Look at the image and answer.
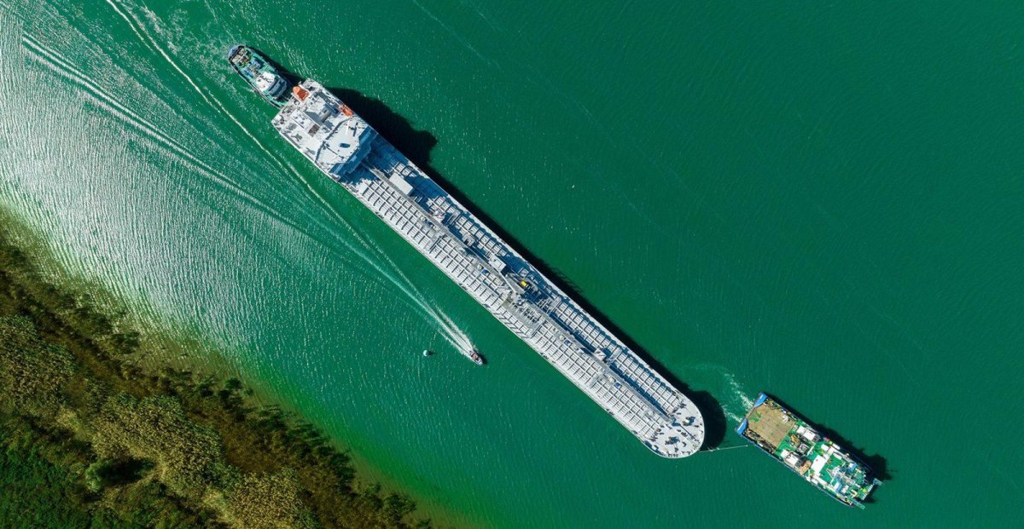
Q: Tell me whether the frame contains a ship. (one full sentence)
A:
Yes, this view includes a ship.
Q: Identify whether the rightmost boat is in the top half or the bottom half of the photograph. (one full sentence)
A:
You can find the rightmost boat in the bottom half.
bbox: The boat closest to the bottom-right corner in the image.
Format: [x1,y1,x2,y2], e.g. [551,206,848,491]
[734,391,883,512]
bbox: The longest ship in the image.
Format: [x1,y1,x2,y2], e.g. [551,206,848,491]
[271,81,705,457]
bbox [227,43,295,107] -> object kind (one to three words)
boat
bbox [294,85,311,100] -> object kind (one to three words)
boat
